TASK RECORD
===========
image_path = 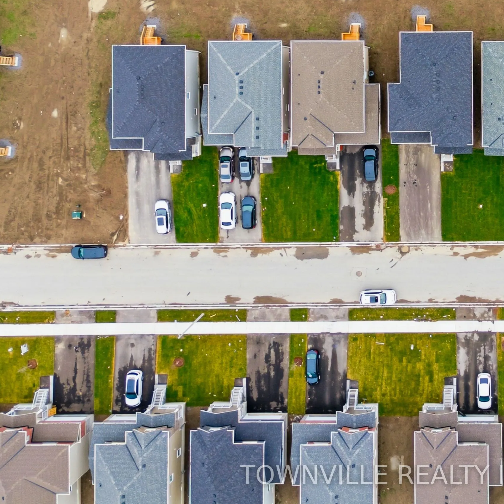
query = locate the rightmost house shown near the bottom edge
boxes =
[414,374,503,504]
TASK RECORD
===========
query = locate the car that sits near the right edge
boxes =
[476,372,493,409]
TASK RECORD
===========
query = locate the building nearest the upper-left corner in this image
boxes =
[110,45,201,180]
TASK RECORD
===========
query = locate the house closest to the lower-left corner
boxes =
[0,377,93,504]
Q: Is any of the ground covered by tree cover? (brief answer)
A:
No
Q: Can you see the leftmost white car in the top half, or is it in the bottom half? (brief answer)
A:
bottom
